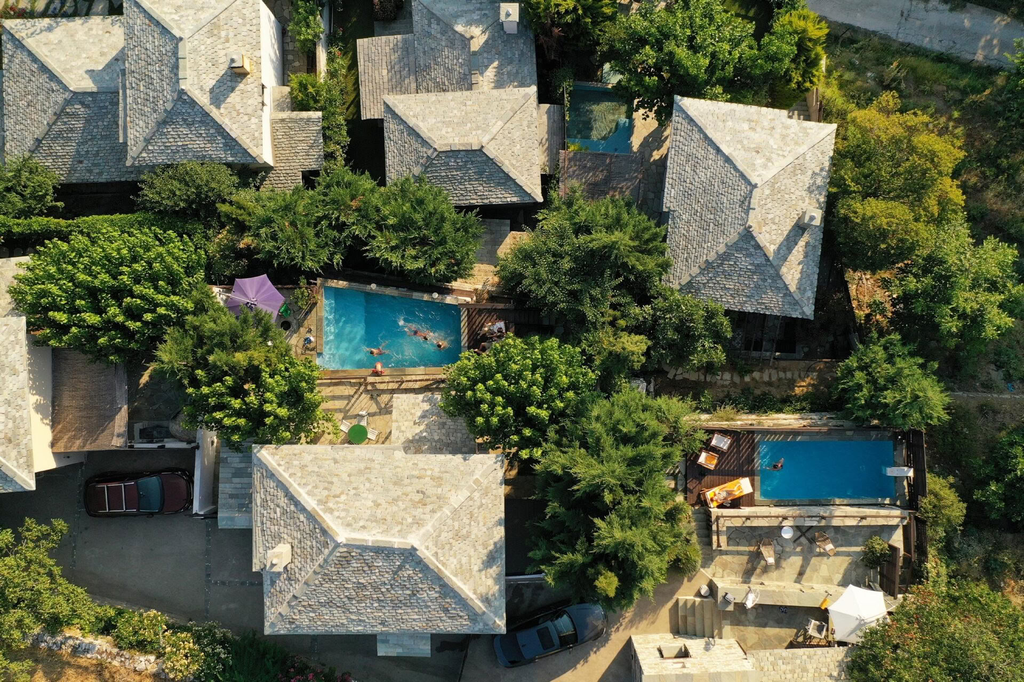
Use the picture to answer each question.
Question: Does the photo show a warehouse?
No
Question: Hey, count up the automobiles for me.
two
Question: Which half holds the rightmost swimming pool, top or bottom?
bottom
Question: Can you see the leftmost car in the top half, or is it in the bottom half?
bottom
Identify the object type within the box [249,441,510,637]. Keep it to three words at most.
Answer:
house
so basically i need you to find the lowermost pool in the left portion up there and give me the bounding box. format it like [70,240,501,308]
[317,279,475,378]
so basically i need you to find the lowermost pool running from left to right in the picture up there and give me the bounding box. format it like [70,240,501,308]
[752,433,909,505]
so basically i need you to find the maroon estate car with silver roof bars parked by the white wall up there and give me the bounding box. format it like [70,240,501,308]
[82,470,193,524]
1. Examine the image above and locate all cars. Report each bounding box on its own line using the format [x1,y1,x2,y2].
[82,470,193,524]
[492,596,609,671]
